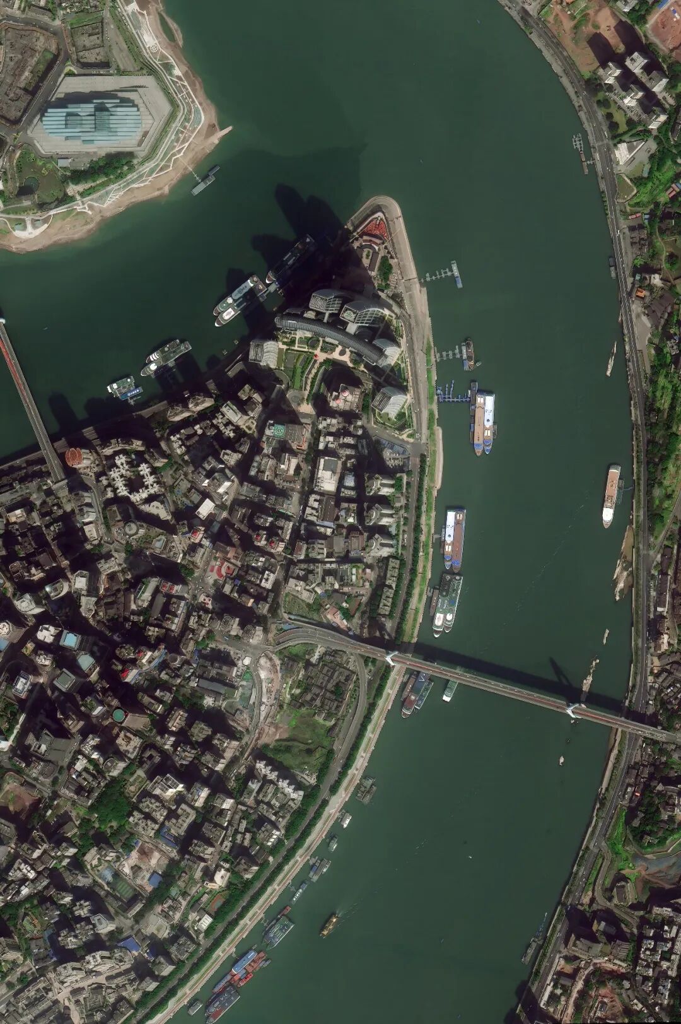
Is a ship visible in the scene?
Yes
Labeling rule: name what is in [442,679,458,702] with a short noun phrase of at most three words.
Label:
ship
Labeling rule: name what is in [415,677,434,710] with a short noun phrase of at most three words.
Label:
boat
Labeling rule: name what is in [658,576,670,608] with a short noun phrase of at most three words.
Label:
house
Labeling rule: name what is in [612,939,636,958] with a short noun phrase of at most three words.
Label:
building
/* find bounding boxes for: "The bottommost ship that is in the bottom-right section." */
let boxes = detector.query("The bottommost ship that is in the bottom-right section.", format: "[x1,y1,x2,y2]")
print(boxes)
[521,938,536,965]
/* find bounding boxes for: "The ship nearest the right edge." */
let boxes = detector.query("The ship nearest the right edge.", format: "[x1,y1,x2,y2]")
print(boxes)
[603,464,622,529]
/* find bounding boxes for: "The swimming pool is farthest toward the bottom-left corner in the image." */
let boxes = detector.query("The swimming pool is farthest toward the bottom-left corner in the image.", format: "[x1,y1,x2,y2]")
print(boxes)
[99,862,114,881]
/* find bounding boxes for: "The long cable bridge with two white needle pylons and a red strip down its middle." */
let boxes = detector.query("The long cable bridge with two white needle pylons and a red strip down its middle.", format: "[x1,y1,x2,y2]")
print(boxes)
[280,630,681,743]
